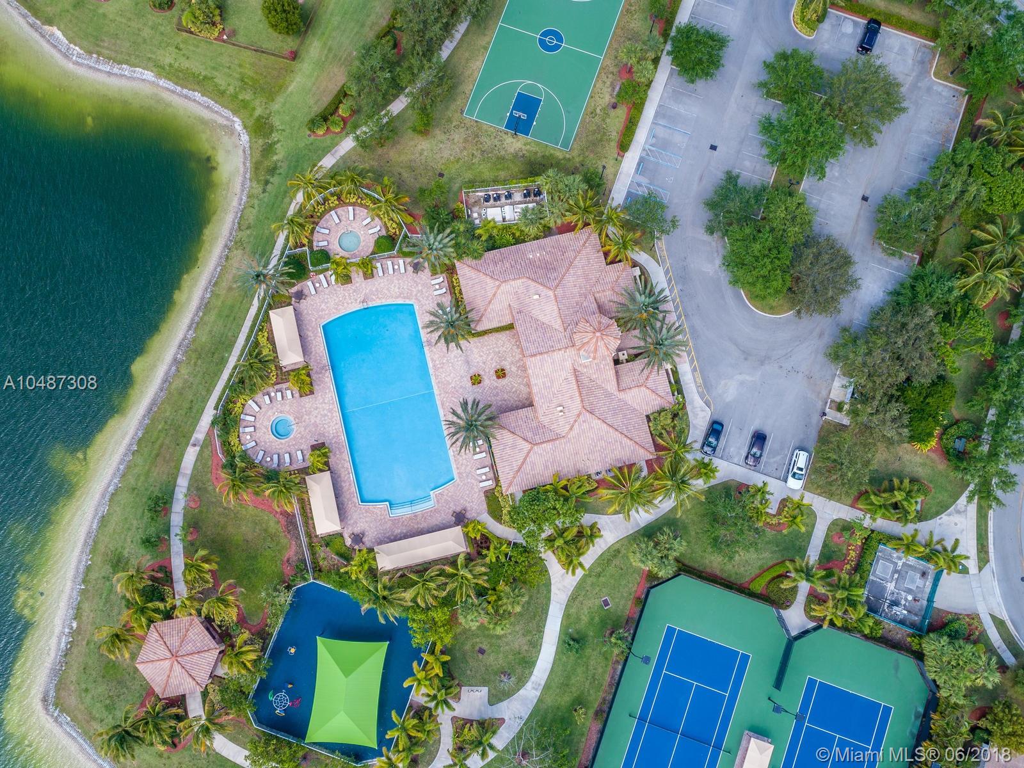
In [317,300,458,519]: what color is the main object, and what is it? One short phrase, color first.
blue swimming pool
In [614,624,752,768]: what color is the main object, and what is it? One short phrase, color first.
blue tennis court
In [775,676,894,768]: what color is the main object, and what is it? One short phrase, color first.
blue tennis court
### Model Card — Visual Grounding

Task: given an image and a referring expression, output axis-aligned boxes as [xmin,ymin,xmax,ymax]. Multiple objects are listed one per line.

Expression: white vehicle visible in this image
[784,448,811,490]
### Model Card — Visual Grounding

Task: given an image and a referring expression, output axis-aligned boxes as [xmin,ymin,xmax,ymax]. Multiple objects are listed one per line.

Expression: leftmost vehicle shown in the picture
[701,418,725,457]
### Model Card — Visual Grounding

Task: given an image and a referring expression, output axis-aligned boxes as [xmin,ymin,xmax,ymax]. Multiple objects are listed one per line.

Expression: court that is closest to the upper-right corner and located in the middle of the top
[464,0,625,153]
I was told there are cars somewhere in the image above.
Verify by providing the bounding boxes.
[784,448,811,490]
[854,18,881,58]
[701,418,725,457]
[743,429,768,468]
